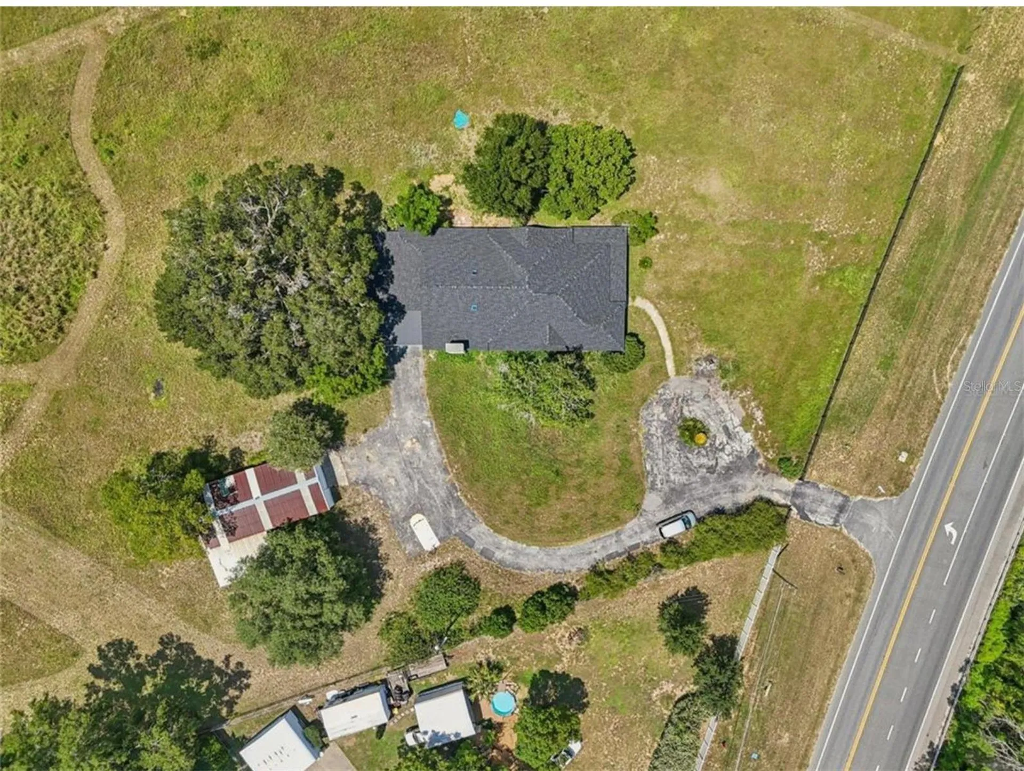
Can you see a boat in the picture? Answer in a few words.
Yes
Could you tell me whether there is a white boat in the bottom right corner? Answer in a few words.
No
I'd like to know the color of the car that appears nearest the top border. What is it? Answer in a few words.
white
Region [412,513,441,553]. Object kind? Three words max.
boat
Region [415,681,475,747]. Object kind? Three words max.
shed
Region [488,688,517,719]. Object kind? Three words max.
swimming pool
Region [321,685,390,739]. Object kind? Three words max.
shed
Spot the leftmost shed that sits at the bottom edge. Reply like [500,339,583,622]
[240,710,320,771]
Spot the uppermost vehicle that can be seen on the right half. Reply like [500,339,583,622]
[657,511,696,537]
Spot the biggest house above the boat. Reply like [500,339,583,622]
[387,226,629,355]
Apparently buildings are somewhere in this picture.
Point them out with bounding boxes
[321,685,390,739]
[387,226,629,355]
[200,449,334,587]
[415,681,475,747]
[240,710,320,771]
